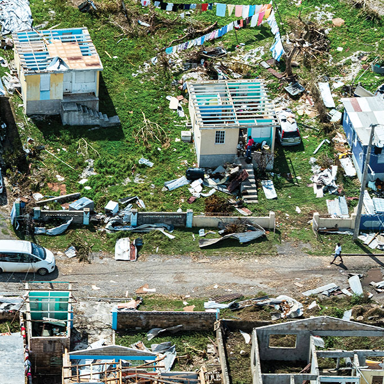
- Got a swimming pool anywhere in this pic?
No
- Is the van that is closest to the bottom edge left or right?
left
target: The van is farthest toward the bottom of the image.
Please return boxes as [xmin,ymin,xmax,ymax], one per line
[0,239,57,276]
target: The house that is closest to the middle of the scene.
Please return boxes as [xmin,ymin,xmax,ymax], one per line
[191,77,282,203]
